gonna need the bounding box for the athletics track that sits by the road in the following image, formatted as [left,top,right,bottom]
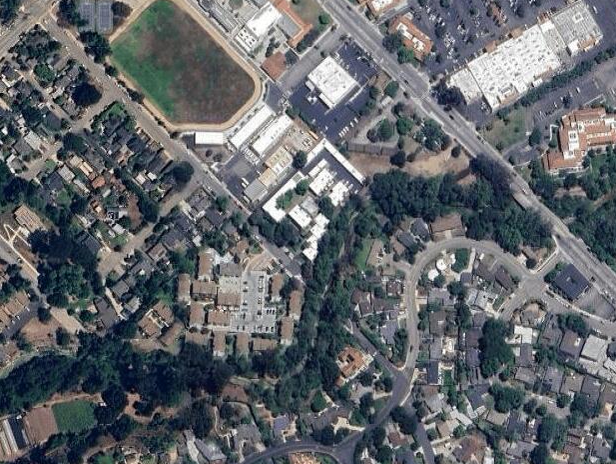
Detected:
[104,0,262,131]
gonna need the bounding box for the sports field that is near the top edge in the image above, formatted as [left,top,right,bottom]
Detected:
[104,0,262,131]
